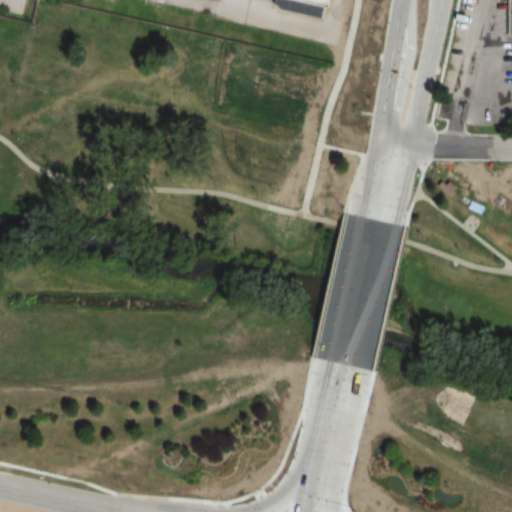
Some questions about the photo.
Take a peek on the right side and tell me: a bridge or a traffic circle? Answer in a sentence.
You can see a bridge on the right side.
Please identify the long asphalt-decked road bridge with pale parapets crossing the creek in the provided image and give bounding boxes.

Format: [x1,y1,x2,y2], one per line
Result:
[312,213,408,372]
